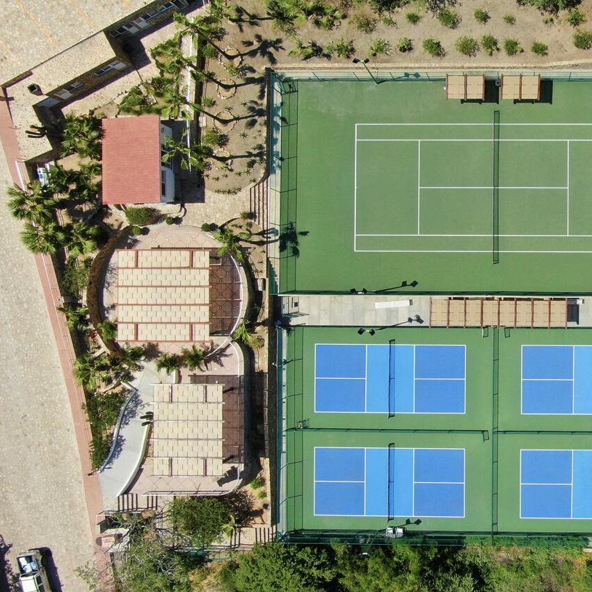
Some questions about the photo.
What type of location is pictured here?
sports ground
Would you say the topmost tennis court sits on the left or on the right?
right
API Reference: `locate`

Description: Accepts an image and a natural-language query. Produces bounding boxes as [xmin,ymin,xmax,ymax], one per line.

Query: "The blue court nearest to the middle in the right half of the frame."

[314,344,466,414]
